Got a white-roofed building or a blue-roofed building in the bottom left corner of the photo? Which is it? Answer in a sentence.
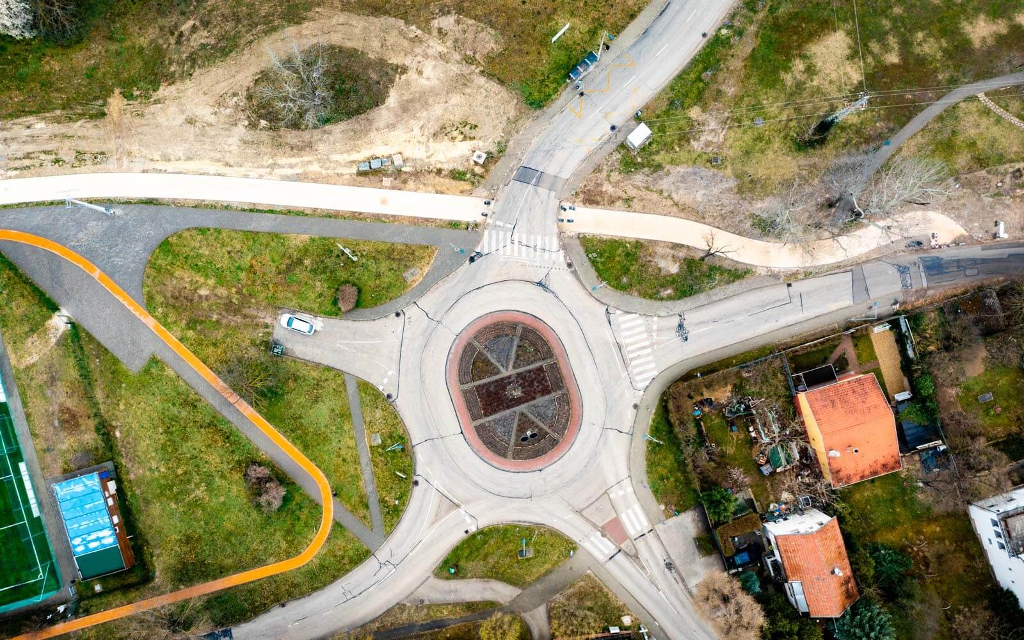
It is a blue-roofed building that can be seen in the bottom left corner of the photo.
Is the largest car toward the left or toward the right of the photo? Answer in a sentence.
It is on the left.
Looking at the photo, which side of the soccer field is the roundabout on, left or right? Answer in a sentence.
The roundabout appears to the right of the soccer field in this view.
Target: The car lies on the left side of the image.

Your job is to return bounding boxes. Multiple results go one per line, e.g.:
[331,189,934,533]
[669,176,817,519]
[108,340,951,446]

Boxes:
[279,314,315,334]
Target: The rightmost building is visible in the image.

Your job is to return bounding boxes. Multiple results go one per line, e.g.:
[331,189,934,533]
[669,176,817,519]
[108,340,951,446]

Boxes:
[964,484,1024,633]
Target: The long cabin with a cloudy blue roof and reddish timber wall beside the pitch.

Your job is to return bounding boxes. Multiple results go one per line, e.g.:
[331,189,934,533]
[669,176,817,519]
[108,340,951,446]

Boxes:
[53,470,137,582]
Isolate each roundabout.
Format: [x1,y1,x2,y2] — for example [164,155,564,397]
[263,185,819,635]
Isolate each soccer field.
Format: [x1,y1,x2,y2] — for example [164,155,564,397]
[0,402,56,609]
